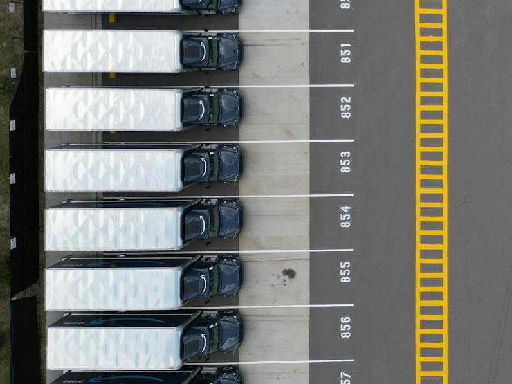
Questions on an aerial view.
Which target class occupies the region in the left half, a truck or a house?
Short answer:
truck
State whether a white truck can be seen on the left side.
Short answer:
Yes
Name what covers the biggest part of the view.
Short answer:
paved ground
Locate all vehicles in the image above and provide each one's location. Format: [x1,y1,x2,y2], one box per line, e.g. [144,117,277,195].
[45,143,246,191]
[42,28,244,74]
[42,0,244,16]
[45,85,246,131]
[45,309,246,369]
[44,253,245,310]
[48,364,246,384]
[44,199,245,251]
